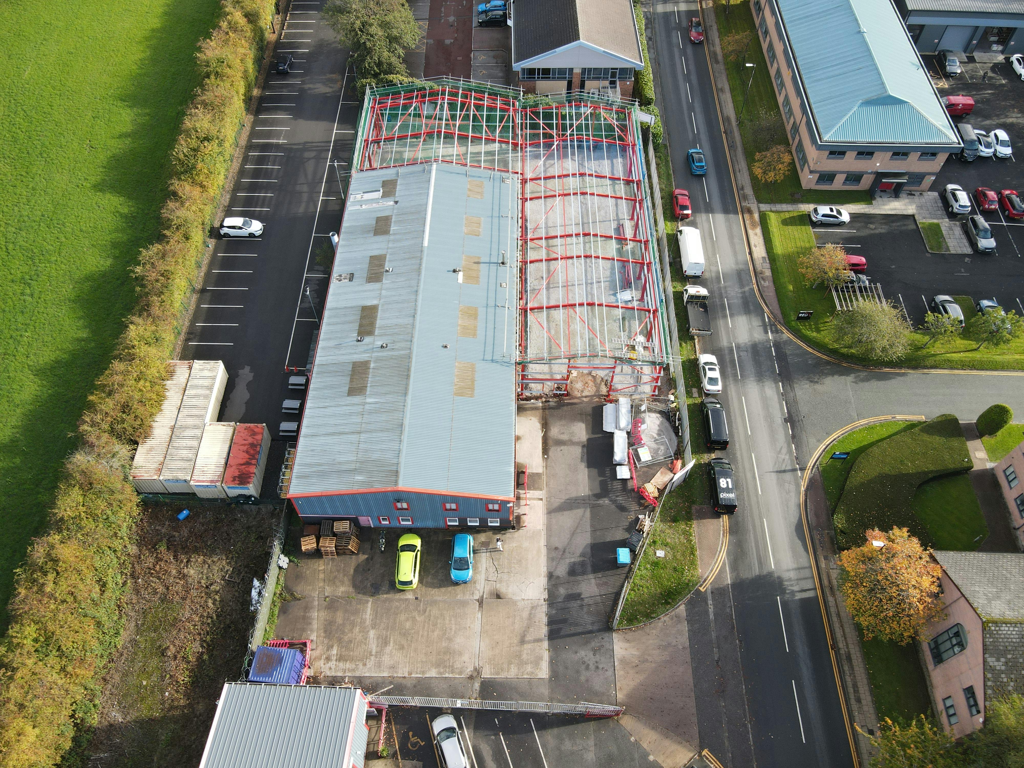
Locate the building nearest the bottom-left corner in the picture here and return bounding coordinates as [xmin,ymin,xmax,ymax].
[206,679,376,768]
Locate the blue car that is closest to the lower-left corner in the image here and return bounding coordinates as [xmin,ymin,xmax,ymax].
[447,535,475,586]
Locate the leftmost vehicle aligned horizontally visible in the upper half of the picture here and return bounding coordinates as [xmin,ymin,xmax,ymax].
[219,217,263,239]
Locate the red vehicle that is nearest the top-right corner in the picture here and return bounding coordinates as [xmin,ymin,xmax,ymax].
[942,95,981,117]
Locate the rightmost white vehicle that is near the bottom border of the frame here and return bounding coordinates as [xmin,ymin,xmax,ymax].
[437,715,468,768]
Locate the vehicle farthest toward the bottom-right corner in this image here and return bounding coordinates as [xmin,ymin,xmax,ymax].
[706,463,738,518]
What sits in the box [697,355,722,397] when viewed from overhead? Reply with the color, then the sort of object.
white car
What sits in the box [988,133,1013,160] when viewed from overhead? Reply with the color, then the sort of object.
white car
